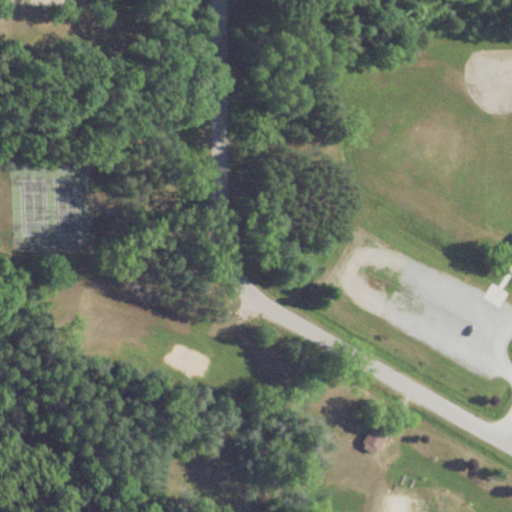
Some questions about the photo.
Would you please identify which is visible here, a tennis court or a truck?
tennis court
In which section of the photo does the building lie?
bottom right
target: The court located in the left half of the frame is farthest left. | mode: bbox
[12,170,52,249]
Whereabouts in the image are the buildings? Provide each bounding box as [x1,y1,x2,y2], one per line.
[362,434,390,456]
